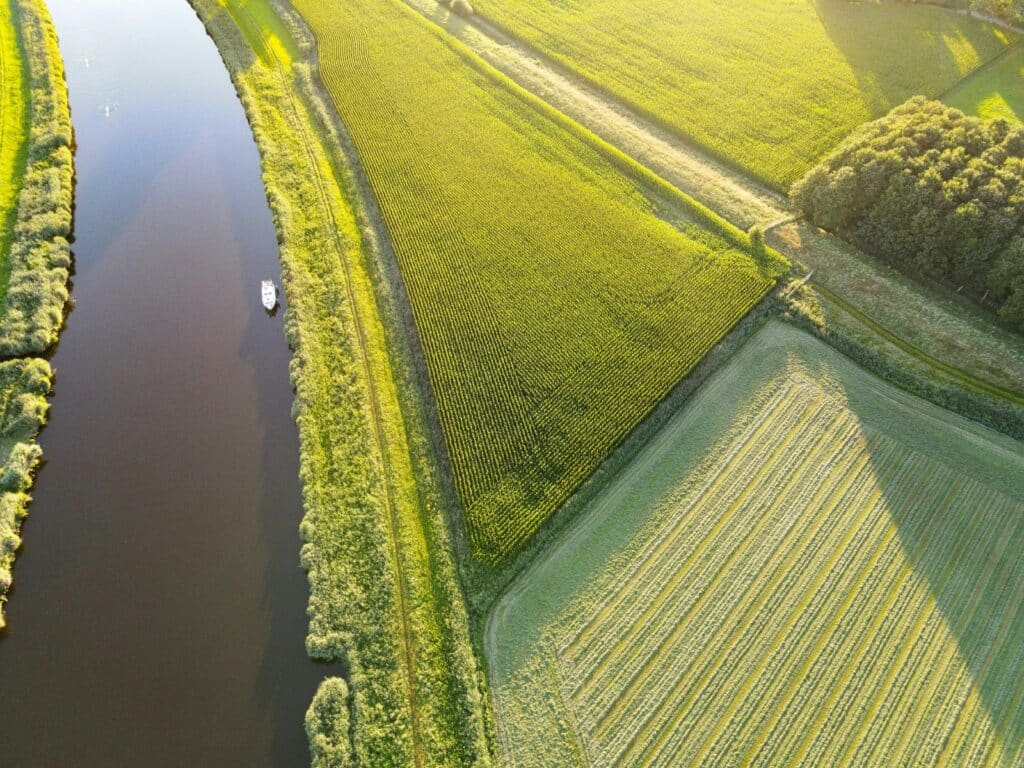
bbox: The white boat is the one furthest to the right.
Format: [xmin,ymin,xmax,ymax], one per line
[261,280,278,313]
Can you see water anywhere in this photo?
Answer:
Yes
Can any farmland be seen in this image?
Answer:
Yes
